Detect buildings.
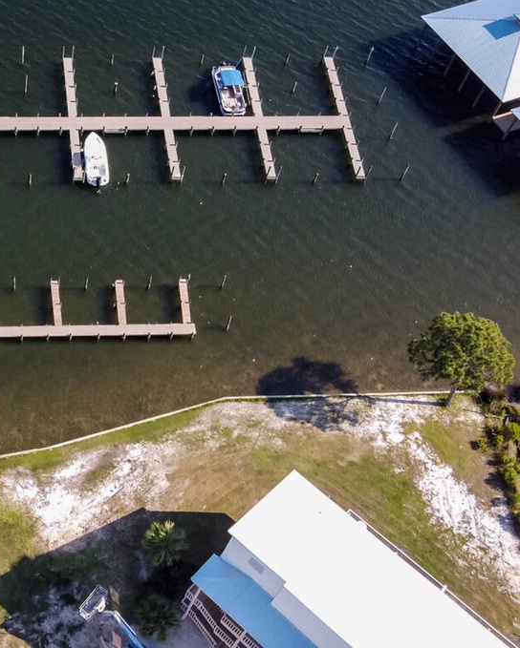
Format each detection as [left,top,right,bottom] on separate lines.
[418,0,520,143]
[178,470,520,648]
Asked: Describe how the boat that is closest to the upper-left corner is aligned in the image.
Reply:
up and down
